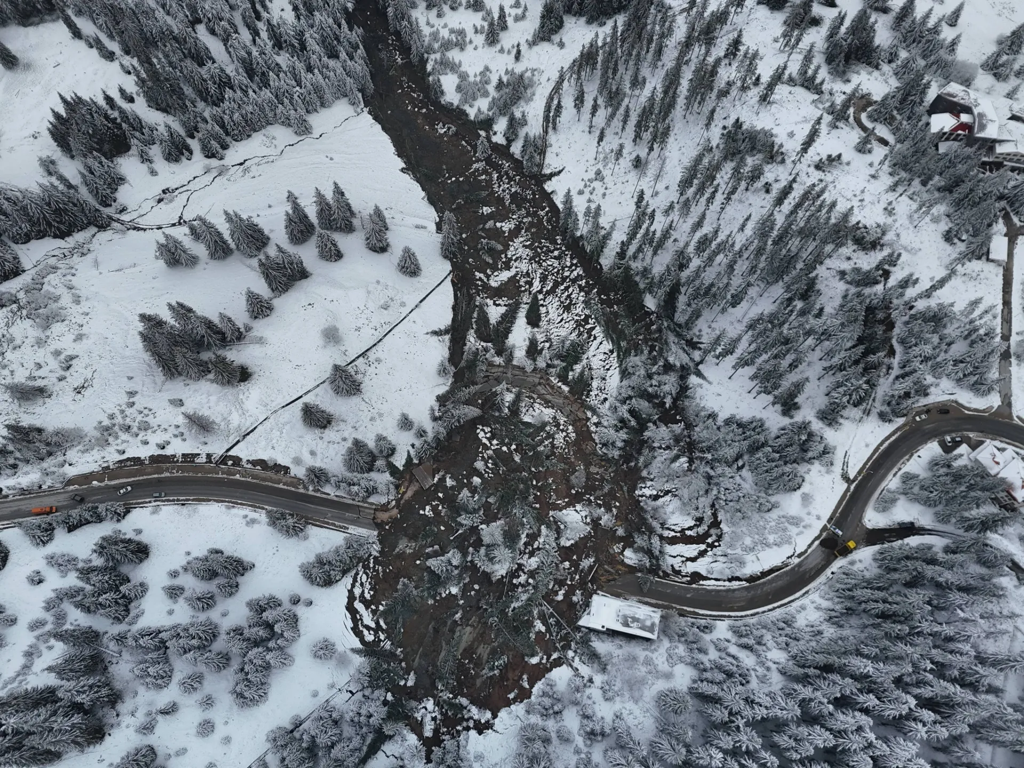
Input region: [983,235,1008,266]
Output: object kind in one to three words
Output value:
building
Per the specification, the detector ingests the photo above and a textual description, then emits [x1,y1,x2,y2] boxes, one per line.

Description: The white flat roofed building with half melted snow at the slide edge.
[577,594,661,640]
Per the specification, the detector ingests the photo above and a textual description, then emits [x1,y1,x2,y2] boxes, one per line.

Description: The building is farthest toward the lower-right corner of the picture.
[948,441,1024,513]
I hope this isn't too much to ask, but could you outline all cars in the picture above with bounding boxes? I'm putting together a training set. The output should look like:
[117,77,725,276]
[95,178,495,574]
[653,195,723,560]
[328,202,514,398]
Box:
[68,492,84,503]
[150,491,166,498]
[829,525,843,537]
[115,484,132,495]
[916,412,929,421]
[945,434,955,448]
[938,407,952,413]
[953,437,966,443]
